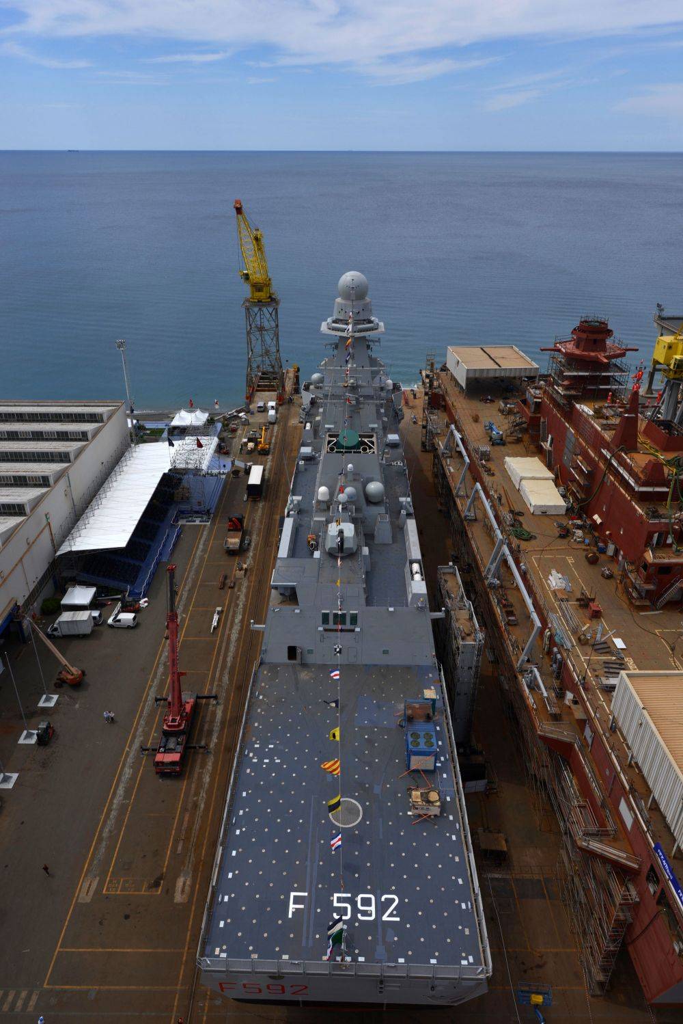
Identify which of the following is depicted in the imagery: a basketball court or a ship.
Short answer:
ship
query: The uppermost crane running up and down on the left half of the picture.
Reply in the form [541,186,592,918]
[229,196,289,409]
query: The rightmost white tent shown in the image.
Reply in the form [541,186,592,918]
[170,407,209,436]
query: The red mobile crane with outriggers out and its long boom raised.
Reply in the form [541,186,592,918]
[141,559,222,778]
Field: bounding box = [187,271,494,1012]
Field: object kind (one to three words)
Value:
ship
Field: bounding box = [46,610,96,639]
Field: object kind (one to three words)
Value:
truck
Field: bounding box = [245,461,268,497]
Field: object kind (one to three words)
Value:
trailer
